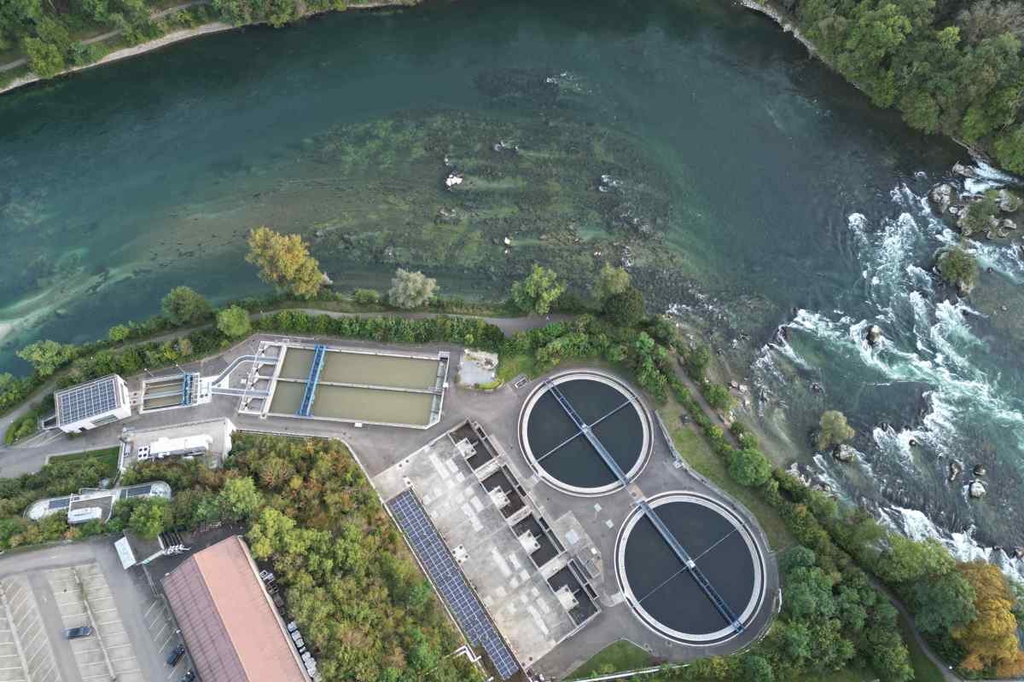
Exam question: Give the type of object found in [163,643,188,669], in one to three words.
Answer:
car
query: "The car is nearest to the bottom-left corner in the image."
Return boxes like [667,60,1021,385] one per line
[66,626,92,640]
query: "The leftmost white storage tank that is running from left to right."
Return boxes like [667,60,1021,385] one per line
[139,372,214,416]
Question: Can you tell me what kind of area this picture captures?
industrial area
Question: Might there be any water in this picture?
Yes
